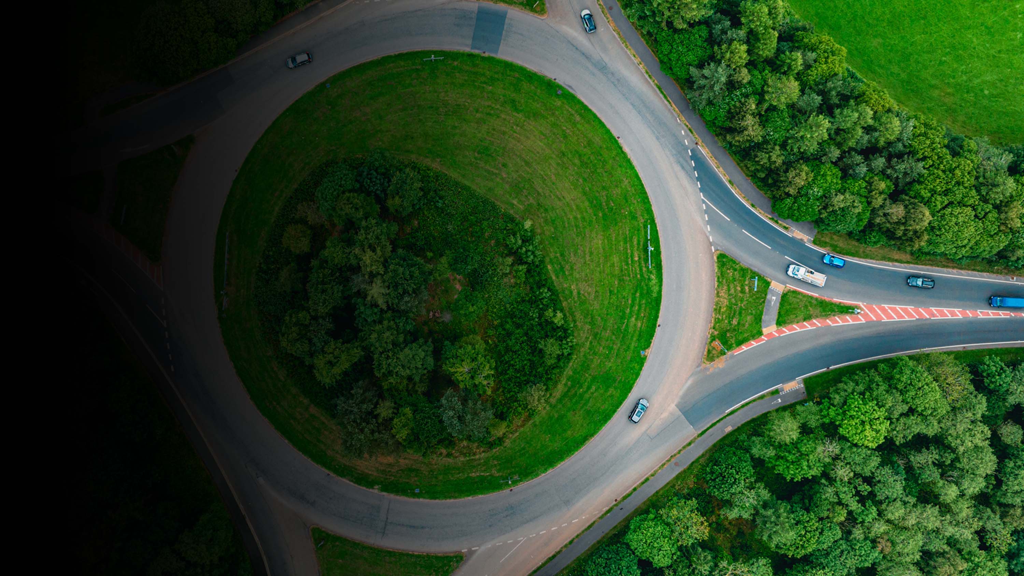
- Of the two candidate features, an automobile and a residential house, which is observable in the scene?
automobile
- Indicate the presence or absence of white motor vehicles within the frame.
Yes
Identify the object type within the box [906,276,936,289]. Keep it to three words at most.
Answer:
vehicle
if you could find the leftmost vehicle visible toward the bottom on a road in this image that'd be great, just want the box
[629,398,648,425]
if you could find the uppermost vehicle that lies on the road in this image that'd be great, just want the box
[581,9,597,34]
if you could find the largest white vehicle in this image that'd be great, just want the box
[785,263,828,288]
